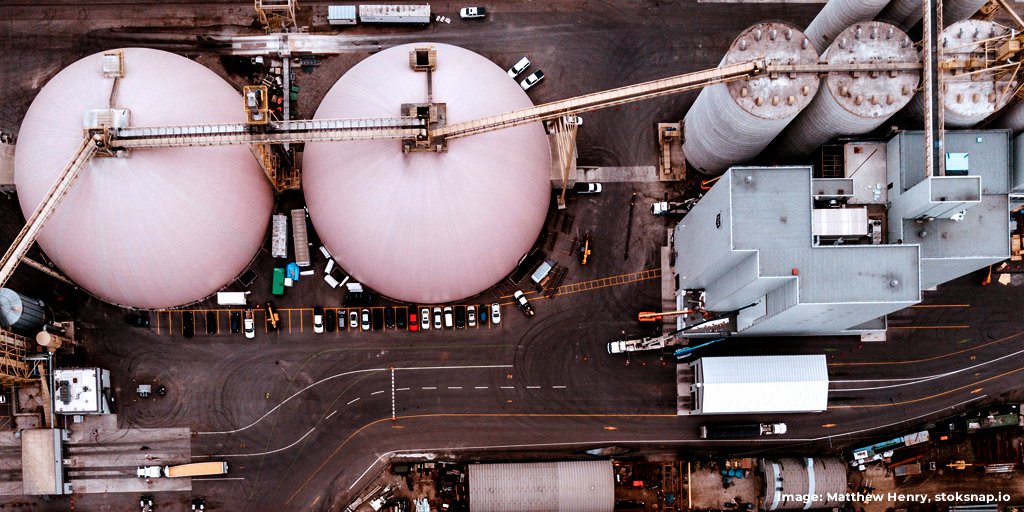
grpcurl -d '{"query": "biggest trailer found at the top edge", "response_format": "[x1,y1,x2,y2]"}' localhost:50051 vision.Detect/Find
[360,6,431,29]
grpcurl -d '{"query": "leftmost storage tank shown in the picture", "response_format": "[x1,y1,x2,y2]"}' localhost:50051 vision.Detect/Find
[0,287,47,333]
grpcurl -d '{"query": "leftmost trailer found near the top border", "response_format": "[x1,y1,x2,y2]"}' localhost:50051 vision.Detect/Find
[328,6,357,30]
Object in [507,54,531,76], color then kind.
white vehicle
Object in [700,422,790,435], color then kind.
black vehicle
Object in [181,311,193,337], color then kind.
black vehicle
